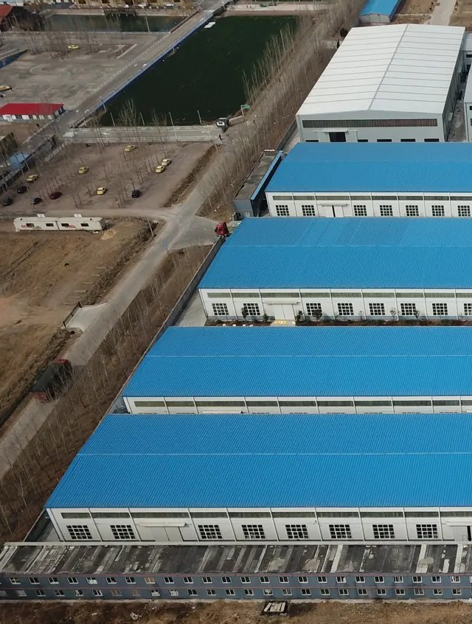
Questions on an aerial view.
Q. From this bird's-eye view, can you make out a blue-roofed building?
Yes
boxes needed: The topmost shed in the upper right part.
[357,0,404,22]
